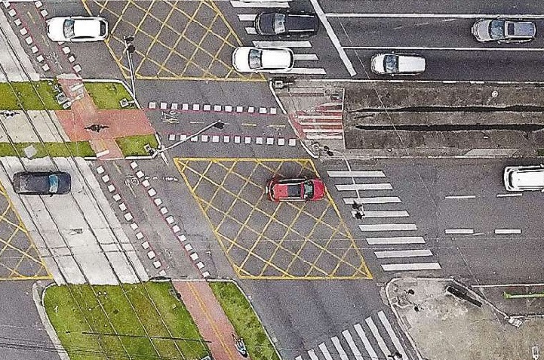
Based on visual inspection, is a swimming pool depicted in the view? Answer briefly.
No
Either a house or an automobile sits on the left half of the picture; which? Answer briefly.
automobile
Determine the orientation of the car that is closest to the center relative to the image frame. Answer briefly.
from side to side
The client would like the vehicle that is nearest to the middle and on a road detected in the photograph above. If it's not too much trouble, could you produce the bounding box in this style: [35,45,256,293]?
[266,176,325,204]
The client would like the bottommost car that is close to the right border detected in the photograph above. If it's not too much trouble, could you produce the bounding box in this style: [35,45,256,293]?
[502,164,544,191]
